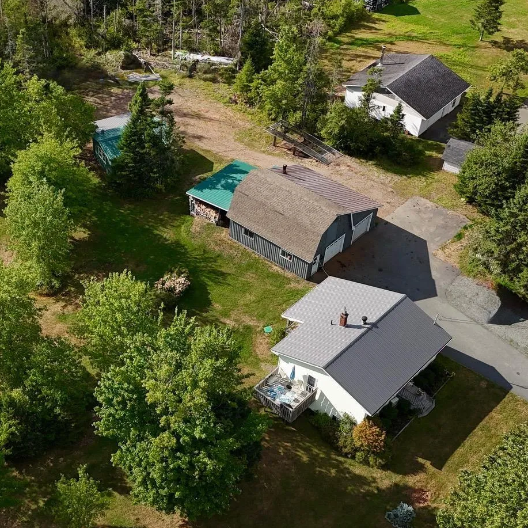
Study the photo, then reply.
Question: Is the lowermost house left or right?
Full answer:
It is on the right.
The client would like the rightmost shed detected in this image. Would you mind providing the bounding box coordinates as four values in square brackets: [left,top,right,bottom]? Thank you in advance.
[442,138,486,177]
